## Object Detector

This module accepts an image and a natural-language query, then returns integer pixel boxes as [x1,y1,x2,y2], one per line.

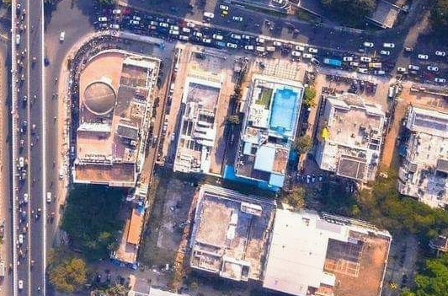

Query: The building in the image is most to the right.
[390,101,448,208]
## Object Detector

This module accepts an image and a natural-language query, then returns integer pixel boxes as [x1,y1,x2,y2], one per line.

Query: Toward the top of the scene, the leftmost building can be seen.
[72,48,159,184]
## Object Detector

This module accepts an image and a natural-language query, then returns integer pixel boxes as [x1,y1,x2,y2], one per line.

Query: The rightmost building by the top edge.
[378,3,401,30]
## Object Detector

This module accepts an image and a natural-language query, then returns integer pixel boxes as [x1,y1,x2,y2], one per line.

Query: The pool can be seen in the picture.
[269,85,299,132]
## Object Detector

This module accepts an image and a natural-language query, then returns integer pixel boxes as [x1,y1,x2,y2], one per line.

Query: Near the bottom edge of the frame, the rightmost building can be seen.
[260,206,392,296]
